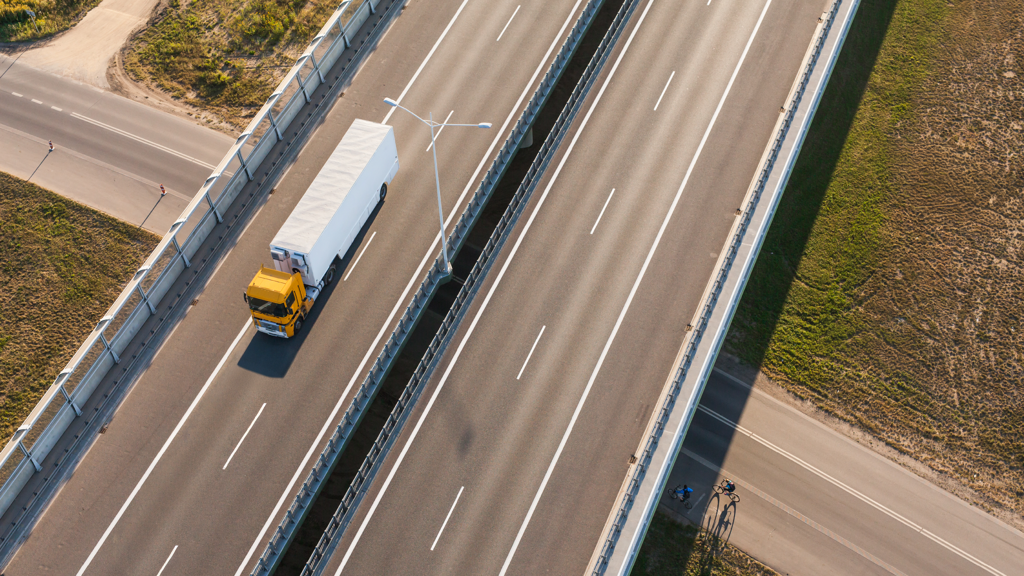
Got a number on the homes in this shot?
none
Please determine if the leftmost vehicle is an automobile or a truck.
truck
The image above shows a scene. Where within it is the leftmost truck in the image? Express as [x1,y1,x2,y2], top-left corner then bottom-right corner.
[244,119,398,337]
